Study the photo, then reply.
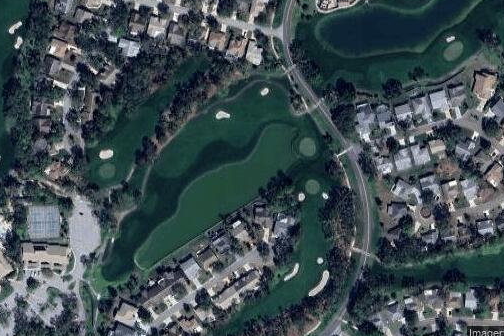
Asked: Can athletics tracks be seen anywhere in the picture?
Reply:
No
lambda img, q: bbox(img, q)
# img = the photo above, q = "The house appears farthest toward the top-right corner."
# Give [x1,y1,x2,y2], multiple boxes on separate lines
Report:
[472,71,499,103]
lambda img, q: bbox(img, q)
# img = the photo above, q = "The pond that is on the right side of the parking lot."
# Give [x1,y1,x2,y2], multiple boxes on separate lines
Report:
[135,124,295,269]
